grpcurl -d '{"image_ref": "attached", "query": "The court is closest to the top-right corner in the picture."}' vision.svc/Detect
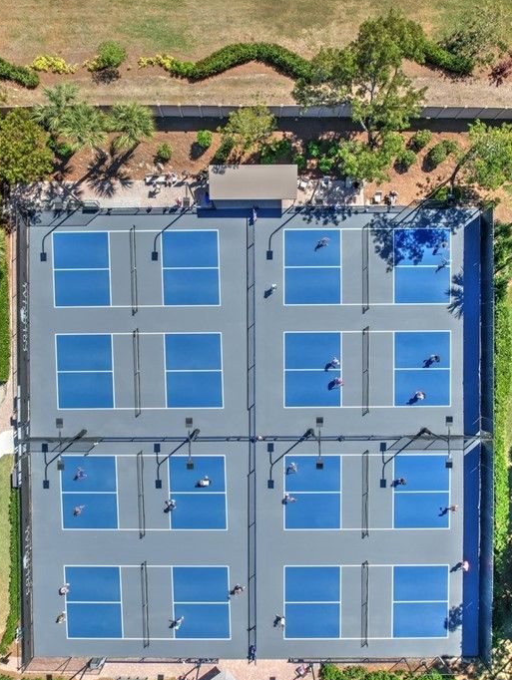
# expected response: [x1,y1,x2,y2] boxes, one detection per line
[284,227,452,306]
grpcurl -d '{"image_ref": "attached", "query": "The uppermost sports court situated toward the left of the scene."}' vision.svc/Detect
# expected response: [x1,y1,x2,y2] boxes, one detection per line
[52,228,221,308]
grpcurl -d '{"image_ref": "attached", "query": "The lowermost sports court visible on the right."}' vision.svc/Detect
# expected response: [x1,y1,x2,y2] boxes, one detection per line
[284,565,450,640]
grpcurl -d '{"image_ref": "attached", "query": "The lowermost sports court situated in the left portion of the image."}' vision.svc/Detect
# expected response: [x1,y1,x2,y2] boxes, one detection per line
[63,566,231,640]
